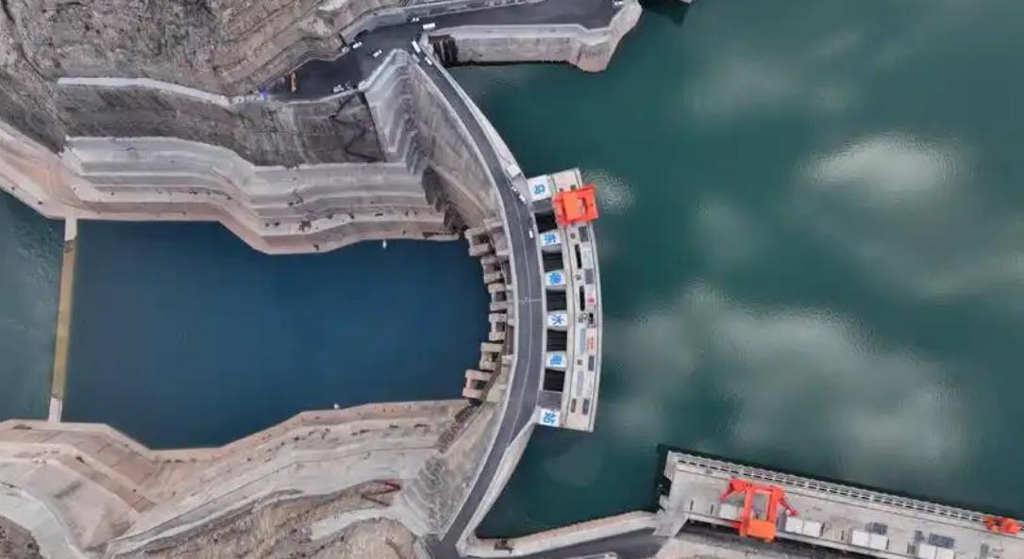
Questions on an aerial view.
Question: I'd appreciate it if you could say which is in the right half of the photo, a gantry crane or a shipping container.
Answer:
gantry crane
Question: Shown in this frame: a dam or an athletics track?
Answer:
dam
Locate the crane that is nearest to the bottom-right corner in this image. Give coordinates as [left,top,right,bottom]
[724,481,791,549]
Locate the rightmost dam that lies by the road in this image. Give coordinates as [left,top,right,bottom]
[406,54,603,545]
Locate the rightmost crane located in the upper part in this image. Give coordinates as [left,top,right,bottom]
[552,181,602,224]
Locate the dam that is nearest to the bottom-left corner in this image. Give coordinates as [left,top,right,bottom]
[48,217,76,424]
